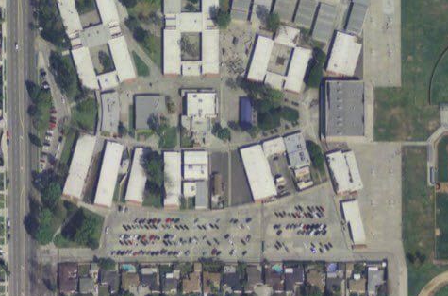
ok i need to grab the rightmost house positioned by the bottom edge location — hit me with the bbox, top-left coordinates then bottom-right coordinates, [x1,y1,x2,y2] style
[367,264,385,287]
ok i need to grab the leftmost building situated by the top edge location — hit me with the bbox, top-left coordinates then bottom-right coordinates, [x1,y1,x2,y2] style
[59,0,135,93]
